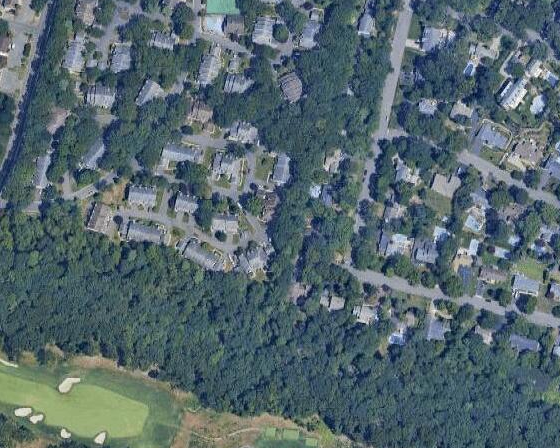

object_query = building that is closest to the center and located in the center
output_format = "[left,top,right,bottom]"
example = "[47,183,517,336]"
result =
[257,186,280,221]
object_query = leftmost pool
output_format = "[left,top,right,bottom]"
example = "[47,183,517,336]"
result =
[205,15,226,33]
